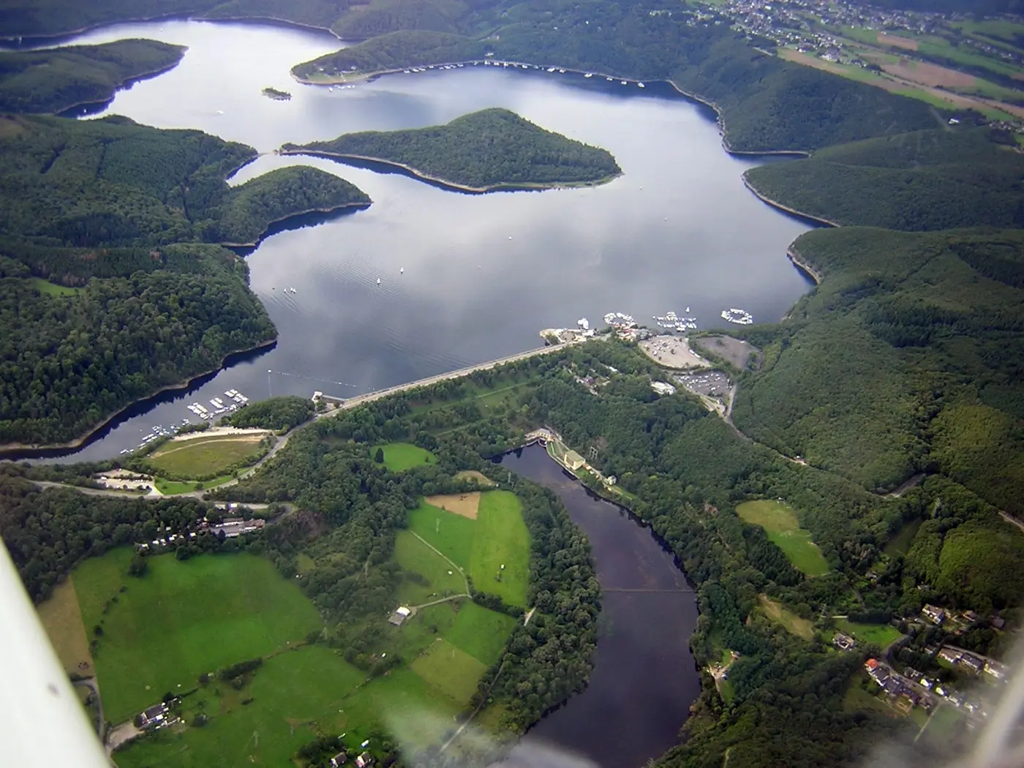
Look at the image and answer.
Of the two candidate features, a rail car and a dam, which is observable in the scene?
dam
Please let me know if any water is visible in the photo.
Yes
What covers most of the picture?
trees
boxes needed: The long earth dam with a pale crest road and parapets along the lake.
[330,343,564,413]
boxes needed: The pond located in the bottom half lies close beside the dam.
[497,441,700,768]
